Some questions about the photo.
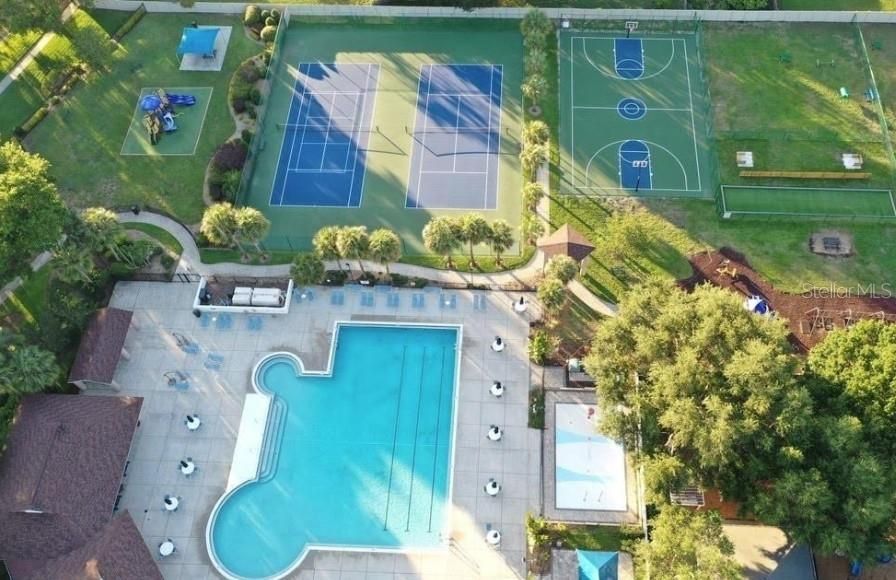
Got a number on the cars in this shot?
0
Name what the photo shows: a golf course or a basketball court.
basketball court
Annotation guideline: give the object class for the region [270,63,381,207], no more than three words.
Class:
tennis court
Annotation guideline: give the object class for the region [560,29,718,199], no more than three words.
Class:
basketball court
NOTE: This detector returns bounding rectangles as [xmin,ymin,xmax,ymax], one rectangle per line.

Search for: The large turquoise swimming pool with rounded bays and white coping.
[206,318,464,580]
